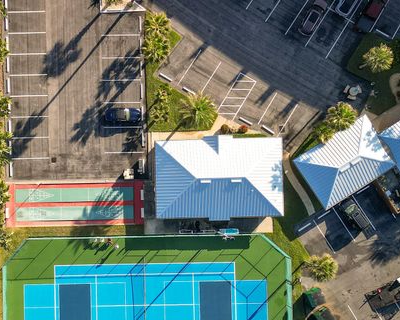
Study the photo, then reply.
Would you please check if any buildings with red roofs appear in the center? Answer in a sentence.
No, I see no building with a red roof in the center.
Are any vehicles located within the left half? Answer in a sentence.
Yes, a vehicle shows up within the left half.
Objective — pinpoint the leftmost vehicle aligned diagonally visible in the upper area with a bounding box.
[298,0,329,31]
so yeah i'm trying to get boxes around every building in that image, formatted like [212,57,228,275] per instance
[154,134,284,221]
[292,115,395,209]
